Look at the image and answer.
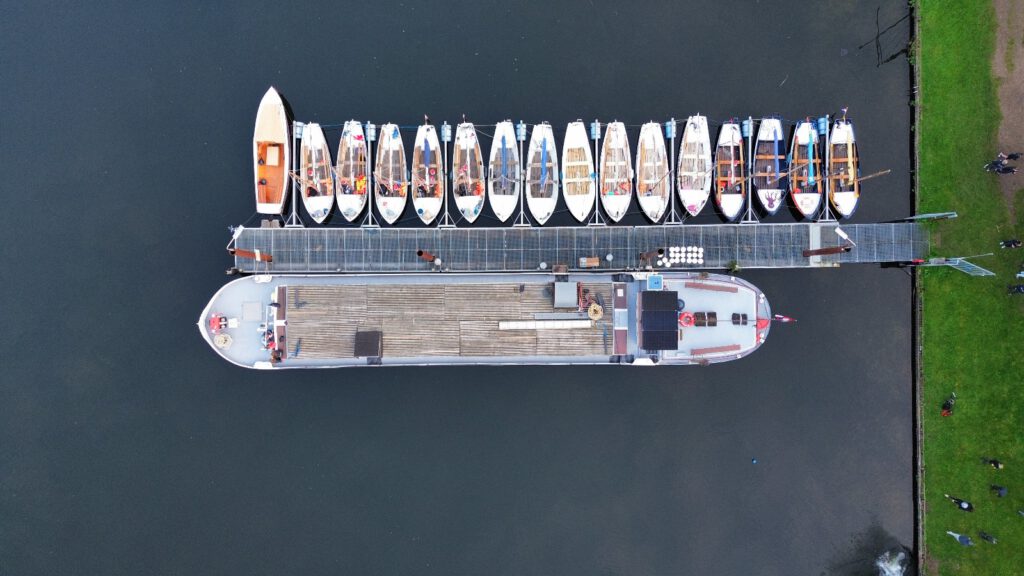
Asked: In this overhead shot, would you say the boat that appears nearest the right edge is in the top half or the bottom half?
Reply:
top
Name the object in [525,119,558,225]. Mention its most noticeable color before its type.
white boat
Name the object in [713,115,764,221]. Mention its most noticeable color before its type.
white boat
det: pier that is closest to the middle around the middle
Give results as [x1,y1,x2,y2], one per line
[440,226,633,272]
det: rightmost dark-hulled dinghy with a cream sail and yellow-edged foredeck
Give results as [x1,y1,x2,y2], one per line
[828,111,893,219]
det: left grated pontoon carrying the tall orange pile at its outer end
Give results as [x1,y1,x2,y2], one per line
[234,227,440,273]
